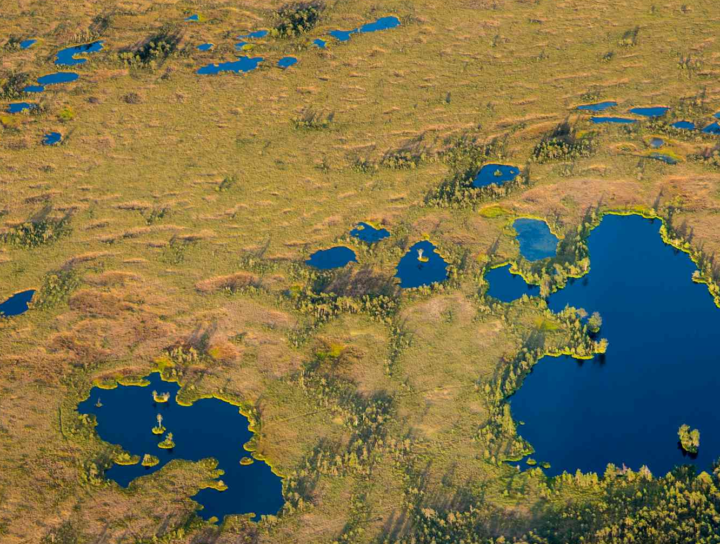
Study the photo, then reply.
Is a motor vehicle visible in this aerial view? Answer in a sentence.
No, I can see no motor vehicle in this picture.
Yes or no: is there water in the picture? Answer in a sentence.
Yes, water shows up in the scene.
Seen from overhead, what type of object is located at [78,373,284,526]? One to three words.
pond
